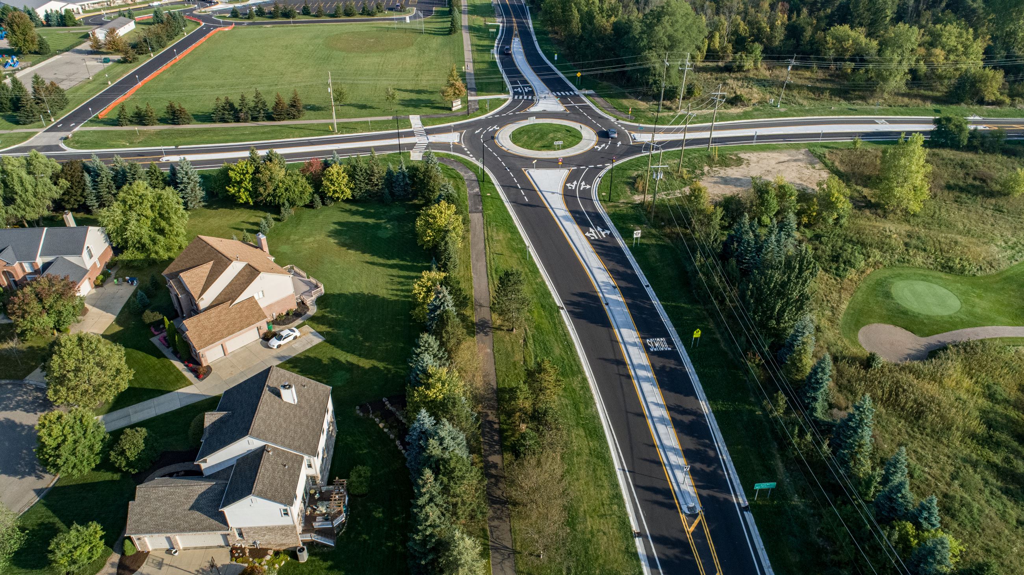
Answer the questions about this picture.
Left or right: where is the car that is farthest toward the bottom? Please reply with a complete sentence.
The car that is farthest toward the bottom is on the left side of the image.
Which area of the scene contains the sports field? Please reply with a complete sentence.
The sports field is located in the top left region of the scene.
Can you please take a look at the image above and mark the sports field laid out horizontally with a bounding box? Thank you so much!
[0,0,509,155]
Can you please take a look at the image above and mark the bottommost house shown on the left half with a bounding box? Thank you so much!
[124,364,335,553]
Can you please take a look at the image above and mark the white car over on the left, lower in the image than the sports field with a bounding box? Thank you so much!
[264,326,301,348]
